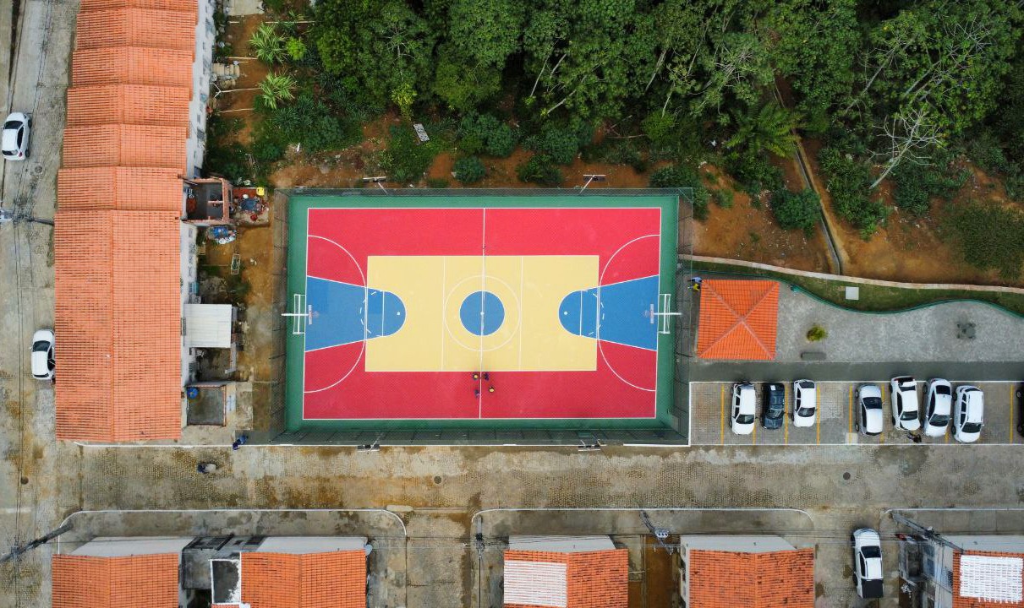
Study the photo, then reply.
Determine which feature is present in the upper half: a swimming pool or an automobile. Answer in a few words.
automobile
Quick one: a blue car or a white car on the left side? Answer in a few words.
white car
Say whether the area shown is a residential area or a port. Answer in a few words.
residential area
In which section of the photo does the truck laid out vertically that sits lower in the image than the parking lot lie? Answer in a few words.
bottom right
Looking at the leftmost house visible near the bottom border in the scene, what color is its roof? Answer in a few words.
orange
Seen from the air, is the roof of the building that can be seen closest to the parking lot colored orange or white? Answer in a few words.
orange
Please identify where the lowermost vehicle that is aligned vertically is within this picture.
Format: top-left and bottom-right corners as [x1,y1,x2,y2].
[853,529,886,600]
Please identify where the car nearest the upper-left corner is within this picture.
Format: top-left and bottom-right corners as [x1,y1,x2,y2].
[0,112,35,159]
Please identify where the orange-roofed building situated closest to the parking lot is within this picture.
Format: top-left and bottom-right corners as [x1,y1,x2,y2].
[694,279,782,362]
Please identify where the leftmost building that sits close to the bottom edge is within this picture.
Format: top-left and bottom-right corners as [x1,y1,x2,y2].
[51,538,188,608]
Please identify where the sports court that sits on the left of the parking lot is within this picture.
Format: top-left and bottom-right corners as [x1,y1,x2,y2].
[285,195,678,431]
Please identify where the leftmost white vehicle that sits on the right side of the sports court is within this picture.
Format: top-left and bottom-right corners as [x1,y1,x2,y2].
[730,380,758,435]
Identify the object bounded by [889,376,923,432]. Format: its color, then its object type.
white car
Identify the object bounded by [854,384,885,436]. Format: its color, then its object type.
white car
